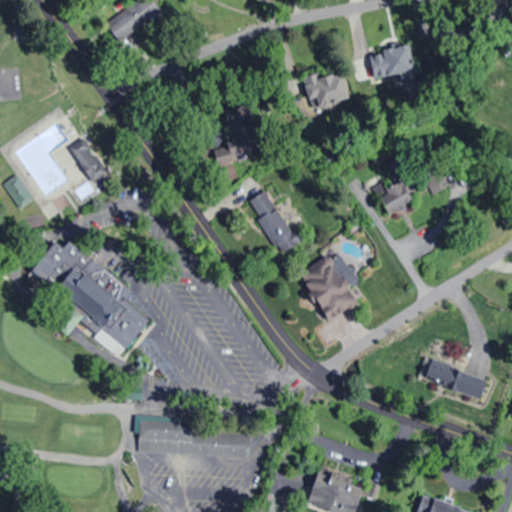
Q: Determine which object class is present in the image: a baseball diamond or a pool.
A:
pool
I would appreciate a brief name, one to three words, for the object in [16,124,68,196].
swimming pool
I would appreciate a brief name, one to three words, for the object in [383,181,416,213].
house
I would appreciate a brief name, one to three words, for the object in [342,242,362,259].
swimming pool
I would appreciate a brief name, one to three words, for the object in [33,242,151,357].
building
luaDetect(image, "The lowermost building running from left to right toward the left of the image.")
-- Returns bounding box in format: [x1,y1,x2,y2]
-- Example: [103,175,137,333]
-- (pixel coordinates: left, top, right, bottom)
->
[134,416,250,461]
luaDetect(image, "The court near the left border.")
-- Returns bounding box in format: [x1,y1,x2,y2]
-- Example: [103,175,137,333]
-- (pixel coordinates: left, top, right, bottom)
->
[0,67,22,101]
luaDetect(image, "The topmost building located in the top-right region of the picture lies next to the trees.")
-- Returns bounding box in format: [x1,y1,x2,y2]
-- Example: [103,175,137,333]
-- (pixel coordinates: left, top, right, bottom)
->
[372,44,418,78]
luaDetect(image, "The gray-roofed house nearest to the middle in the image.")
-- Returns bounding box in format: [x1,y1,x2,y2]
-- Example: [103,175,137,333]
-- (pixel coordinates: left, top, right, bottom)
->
[250,192,300,250]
